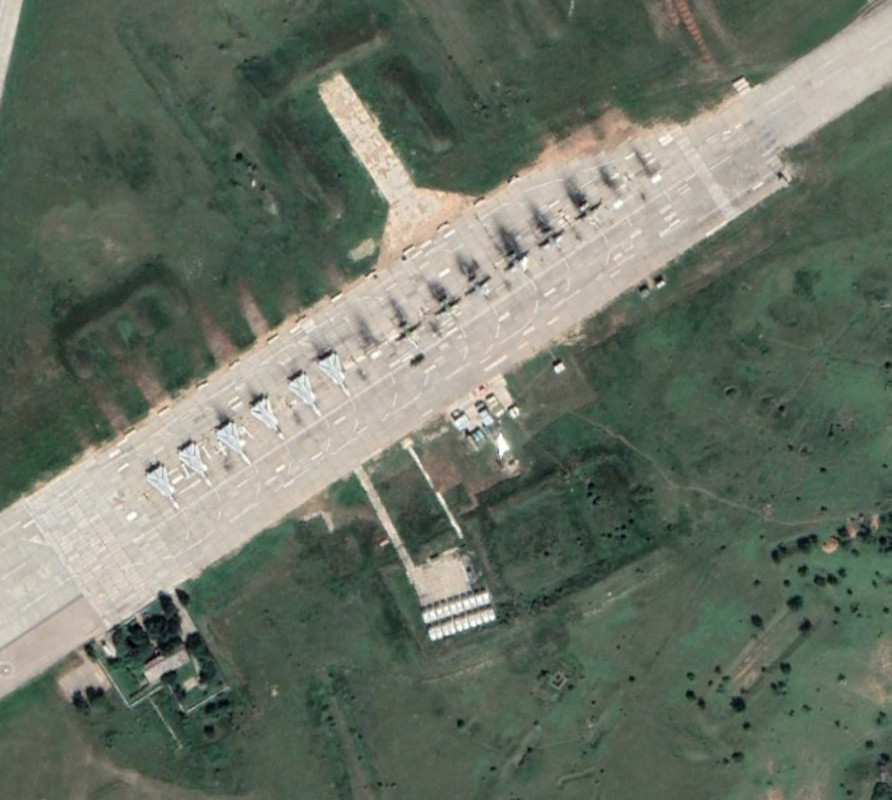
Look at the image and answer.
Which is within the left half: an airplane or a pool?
airplane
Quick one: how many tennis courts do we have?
zero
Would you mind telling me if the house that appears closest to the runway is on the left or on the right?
left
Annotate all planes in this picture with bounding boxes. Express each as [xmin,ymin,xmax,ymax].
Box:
[577,199,603,227]
[321,352,349,396]
[539,227,566,254]
[396,322,422,349]
[146,466,177,508]
[179,443,210,485]
[436,296,462,323]
[504,250,530,277]
[290,374,321,417]
[465,275,491,302]
[252,397,284,439]
[217,424,250,464]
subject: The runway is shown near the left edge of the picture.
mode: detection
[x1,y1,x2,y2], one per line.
[0,497,105,701]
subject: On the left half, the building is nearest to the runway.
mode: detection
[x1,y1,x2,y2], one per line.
[143,649,190,688]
